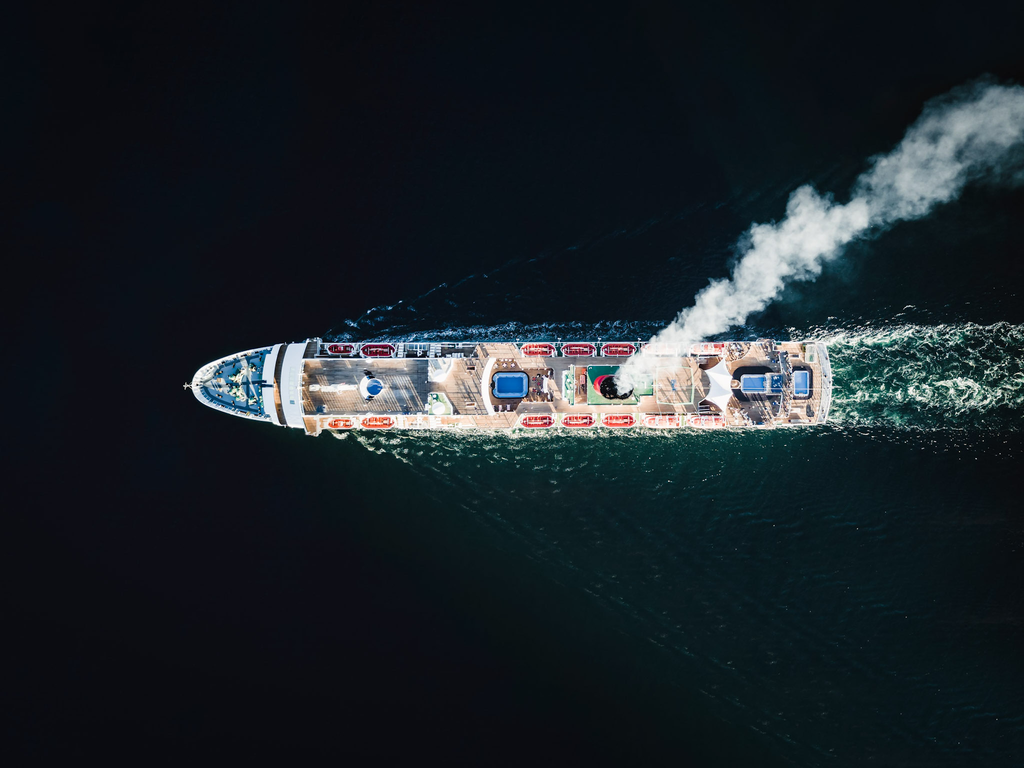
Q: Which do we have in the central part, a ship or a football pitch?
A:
ship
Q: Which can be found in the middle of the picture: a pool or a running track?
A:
pool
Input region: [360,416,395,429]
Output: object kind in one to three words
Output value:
boat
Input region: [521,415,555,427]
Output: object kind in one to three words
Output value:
boat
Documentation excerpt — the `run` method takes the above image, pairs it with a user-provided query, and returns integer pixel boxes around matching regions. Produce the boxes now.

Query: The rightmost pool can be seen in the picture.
[794,371,809,396]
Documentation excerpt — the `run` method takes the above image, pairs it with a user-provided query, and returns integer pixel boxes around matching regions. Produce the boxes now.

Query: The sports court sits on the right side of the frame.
[651,366,700,416]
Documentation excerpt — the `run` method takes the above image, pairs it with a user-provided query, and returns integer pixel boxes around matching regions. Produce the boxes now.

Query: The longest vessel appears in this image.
[183,337,839,436]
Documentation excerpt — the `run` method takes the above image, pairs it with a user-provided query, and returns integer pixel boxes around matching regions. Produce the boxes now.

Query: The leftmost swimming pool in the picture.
[489,371,529,398]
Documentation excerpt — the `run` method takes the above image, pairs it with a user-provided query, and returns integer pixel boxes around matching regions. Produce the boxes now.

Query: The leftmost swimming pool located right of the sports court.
[740,375,766,393]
